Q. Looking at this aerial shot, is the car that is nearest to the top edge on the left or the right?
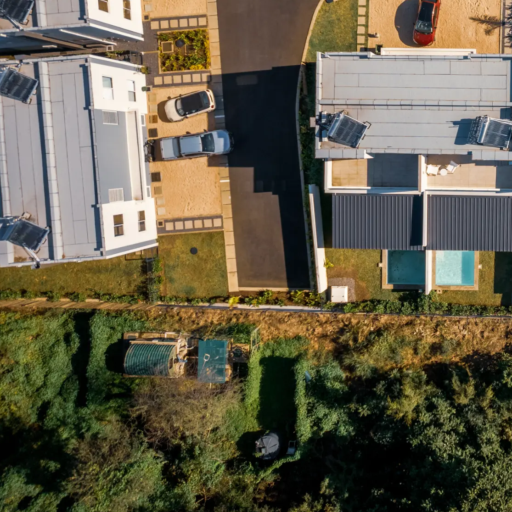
right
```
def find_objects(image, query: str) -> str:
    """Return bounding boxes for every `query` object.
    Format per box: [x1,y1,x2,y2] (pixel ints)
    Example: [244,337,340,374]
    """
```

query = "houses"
[0,55,159,272]
[0,0,143,55]
[311,48,512,252]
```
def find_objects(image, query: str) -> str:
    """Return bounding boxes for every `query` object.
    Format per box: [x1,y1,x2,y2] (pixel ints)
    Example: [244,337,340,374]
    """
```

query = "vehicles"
[160,129,233,160]
[410,0,442,48]
[145,137,157,161]
[163,89,219,122]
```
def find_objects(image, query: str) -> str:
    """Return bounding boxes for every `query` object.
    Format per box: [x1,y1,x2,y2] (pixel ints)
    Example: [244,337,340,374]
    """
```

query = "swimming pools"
[378,238,425,288]
[431,251,482,290]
